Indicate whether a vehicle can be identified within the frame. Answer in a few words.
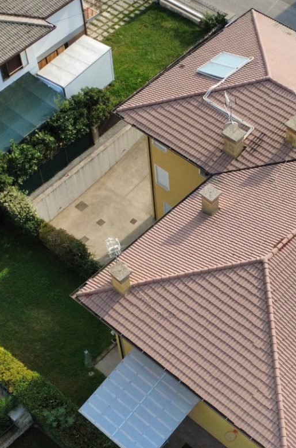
No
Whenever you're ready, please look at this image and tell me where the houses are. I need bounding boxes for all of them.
[69,9,296,448]
[0,0,108,134]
